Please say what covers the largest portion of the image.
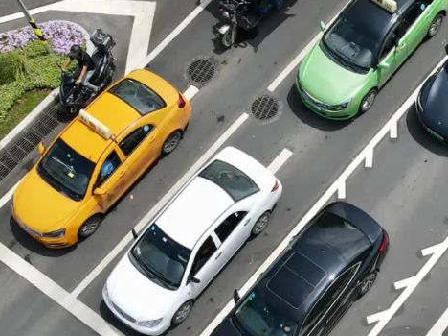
paved ground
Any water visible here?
No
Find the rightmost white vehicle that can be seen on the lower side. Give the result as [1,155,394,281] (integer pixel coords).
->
[101,148,283,336]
